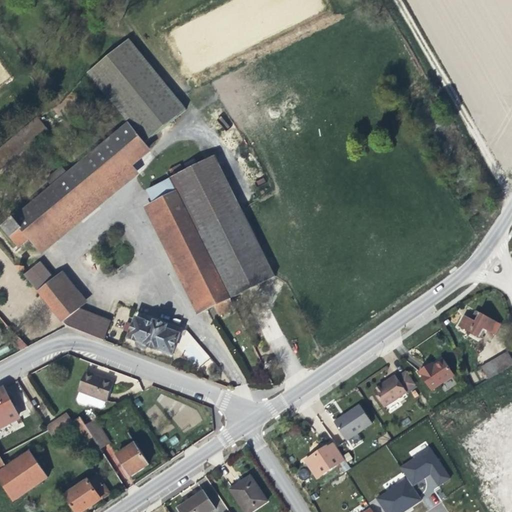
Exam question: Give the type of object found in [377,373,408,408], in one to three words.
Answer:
house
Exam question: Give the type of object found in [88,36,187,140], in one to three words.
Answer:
barn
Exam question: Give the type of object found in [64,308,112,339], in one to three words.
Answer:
shed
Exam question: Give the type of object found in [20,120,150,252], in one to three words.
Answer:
building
